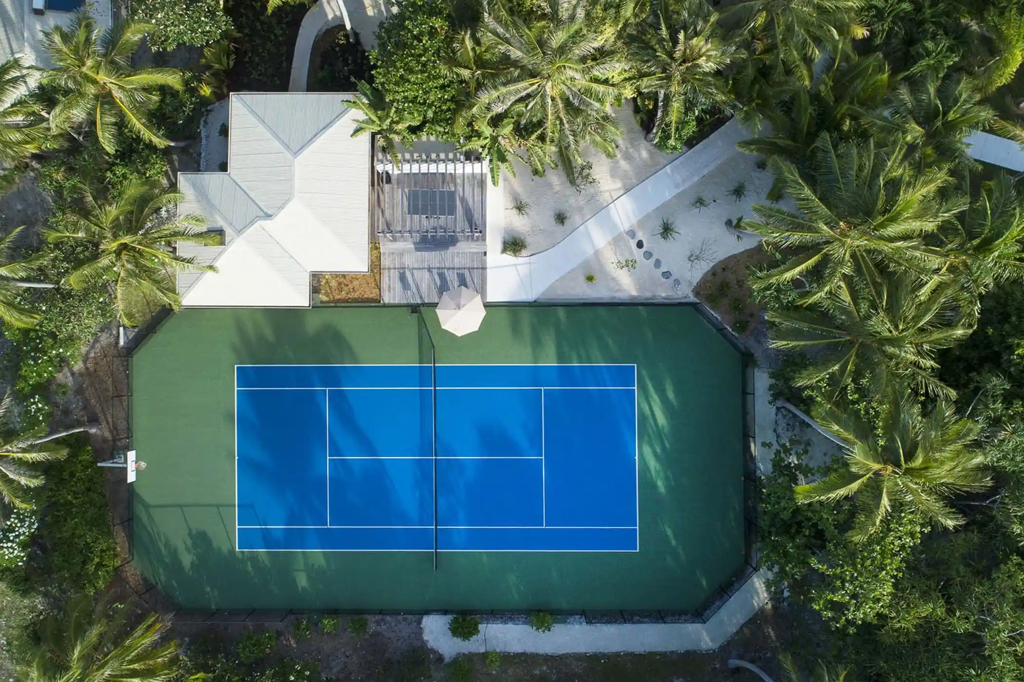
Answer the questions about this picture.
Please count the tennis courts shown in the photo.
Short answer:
one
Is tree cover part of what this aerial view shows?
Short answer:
Yes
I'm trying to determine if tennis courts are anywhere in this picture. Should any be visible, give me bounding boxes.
[132,305,745,610]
